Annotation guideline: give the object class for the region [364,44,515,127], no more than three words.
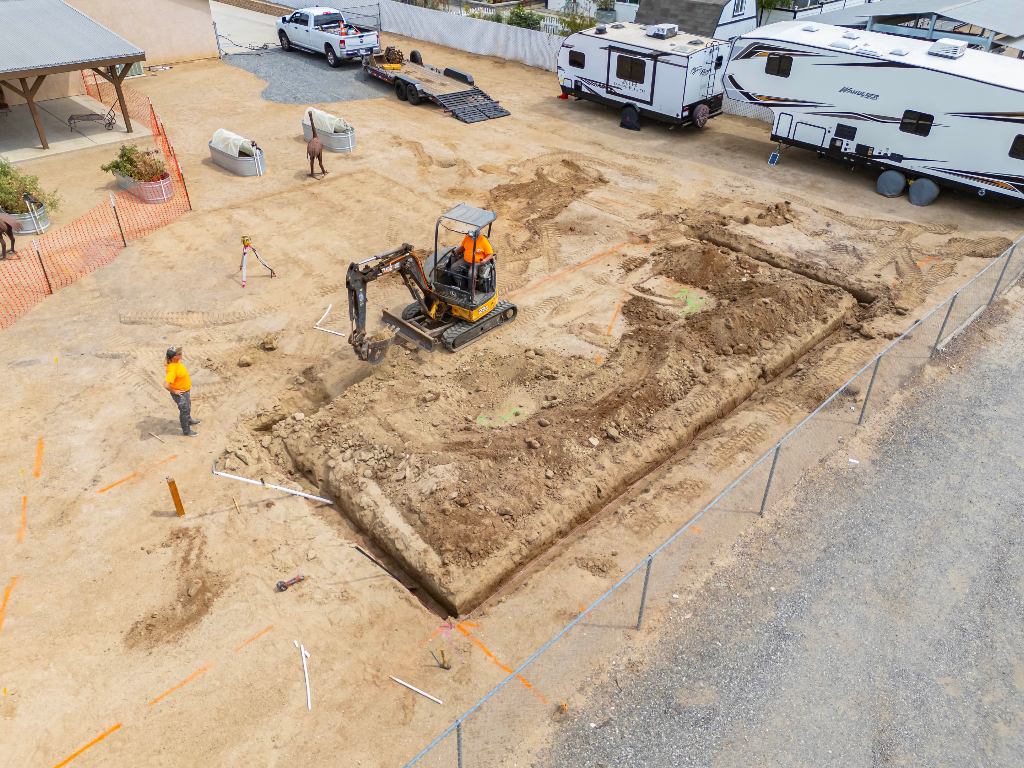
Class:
trailer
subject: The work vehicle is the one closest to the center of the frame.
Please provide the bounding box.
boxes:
[343,199,522,364]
